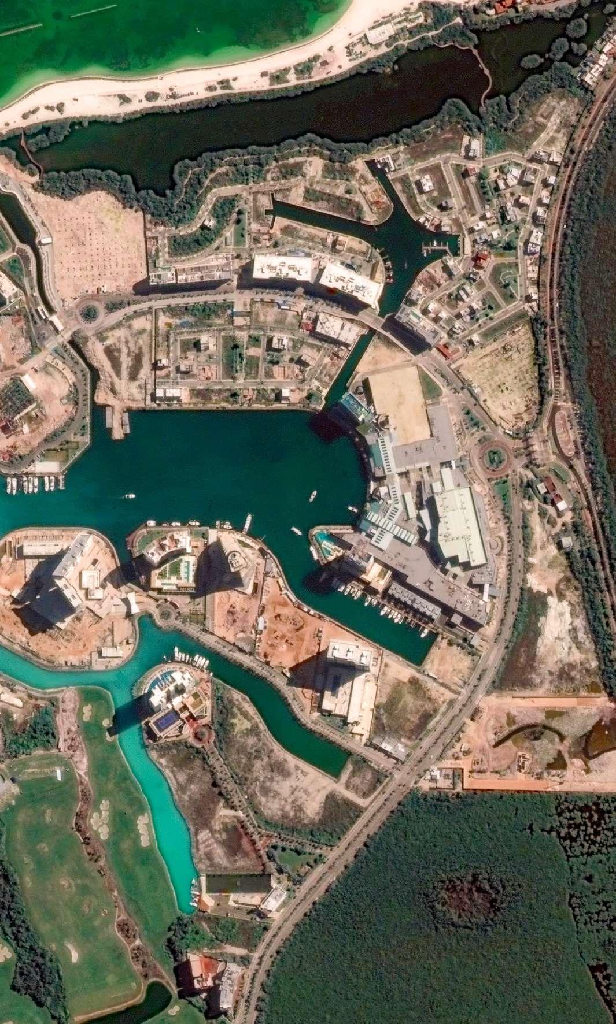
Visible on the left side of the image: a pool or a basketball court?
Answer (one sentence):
The one visible on the left side of the image is a pool.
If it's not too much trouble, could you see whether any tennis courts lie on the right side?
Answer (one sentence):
No, I can find no tennis court on the right side.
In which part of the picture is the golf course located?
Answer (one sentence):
Look in the bottom left portion of the view to spot the golf course.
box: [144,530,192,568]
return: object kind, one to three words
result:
building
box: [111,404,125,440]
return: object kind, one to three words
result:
pier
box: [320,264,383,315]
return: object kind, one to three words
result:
building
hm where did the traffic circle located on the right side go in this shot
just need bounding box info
[472,436,516,480]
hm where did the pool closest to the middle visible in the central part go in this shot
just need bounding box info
[311,526,350,564]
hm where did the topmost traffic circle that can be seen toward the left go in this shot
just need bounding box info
[74,298,105,329]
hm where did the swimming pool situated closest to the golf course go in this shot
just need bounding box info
[143,667,188,695]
